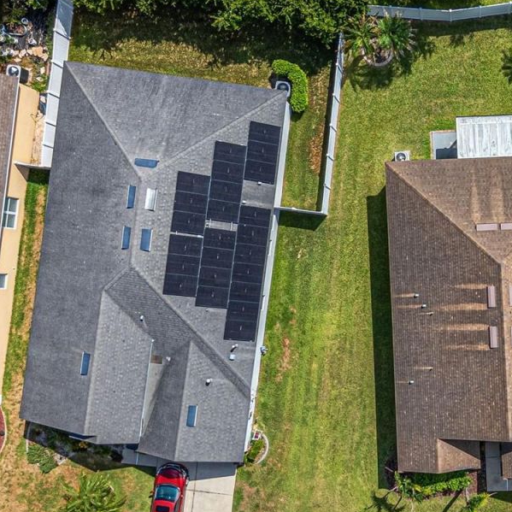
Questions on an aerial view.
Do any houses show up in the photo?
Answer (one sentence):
Yes, the photo shows a house.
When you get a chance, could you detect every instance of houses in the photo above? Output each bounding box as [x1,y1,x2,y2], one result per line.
[20,61,290,463]
[384,157,512,479]
[0,76,38,401]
